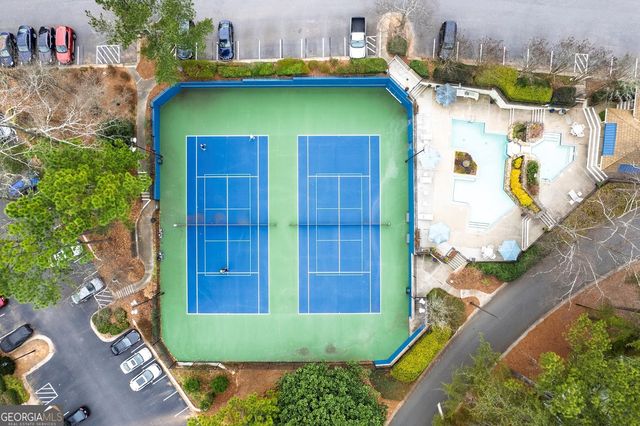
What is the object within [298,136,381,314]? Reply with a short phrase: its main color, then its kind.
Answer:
blue tennis court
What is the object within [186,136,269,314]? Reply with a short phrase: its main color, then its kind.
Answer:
blue tennis court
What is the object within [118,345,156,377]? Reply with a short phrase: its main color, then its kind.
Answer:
white car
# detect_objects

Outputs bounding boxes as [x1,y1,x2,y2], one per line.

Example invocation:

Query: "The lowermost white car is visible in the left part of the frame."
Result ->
[128,362,166,394]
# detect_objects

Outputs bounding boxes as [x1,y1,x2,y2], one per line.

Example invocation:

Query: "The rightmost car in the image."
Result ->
[437,21,456,61]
